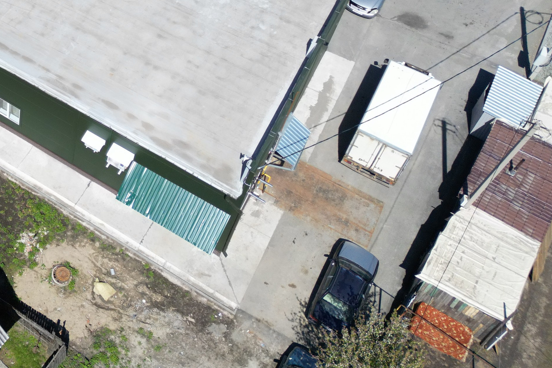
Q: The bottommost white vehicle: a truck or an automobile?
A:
truck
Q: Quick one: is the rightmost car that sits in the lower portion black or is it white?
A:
black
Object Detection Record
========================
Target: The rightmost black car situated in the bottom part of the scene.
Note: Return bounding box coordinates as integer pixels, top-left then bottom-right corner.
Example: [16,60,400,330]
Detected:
[299,241,378,347]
